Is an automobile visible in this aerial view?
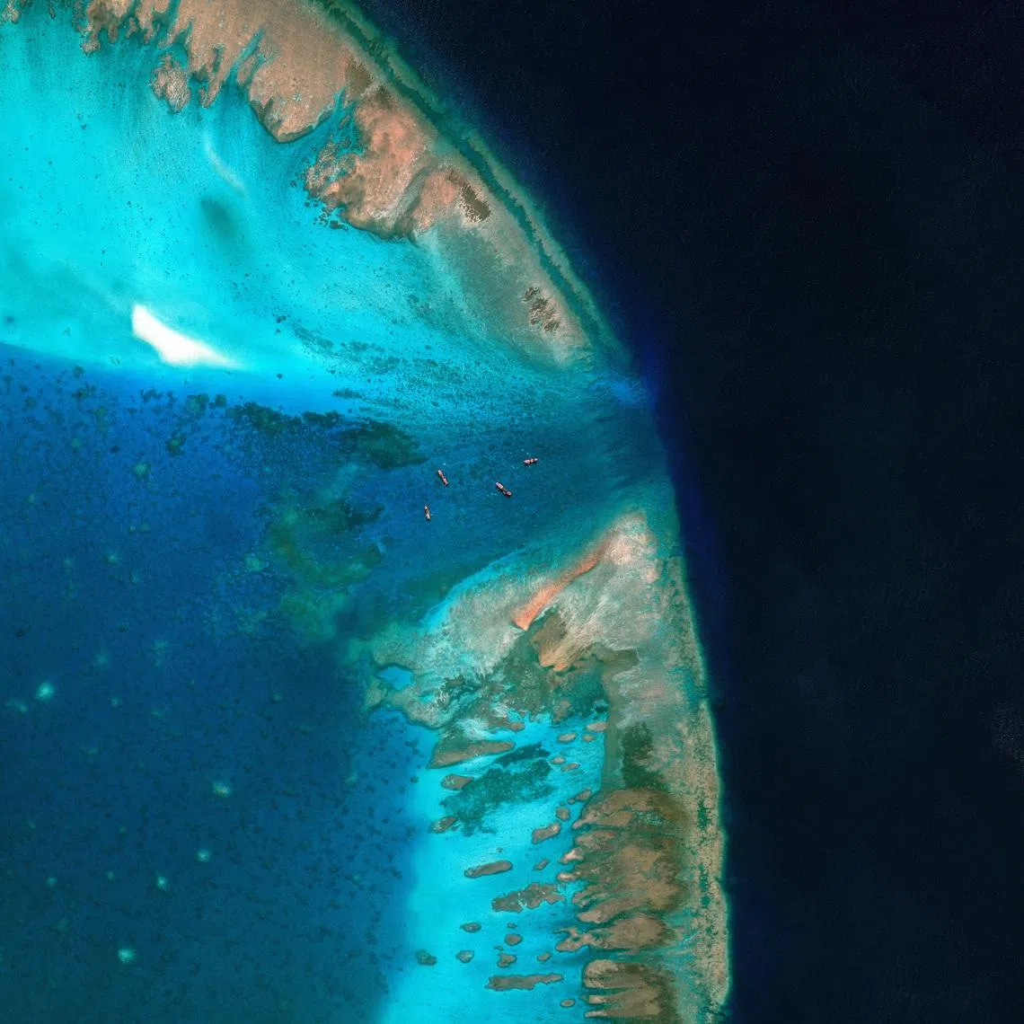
No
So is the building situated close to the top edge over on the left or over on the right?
left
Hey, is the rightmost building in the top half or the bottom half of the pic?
bottom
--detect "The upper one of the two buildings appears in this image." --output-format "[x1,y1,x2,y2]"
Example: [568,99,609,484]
[0,0,647,393]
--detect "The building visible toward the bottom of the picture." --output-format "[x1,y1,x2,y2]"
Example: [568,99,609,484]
[360,498,735,1024]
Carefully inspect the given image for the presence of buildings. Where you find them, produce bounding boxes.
[360,498,735,1024]
[0,0,647,393]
